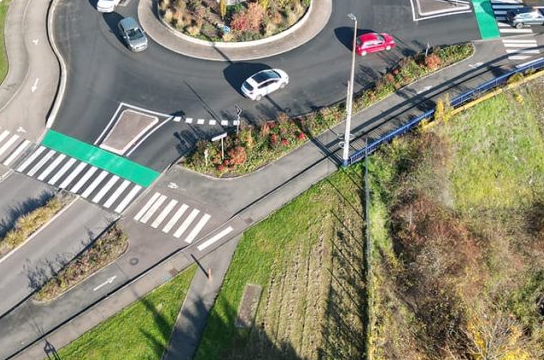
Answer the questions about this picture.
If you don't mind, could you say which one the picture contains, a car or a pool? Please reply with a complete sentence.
It is a car that can be seen here.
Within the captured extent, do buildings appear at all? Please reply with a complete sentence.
No, there's no building here.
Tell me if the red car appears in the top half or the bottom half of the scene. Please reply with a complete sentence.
The red car sits in the top half of the picture.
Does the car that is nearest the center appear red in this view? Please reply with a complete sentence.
No, from above the car that is nearest the center looks white.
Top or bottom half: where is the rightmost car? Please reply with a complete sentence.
The rightmost car sits in the top half of the picture.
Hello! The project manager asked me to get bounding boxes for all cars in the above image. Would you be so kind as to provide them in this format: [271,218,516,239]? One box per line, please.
[355,31,397,56]
[117,14,147,47]
[239,68,289,99]
[96,0,119,10]
[507,5,544,27]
